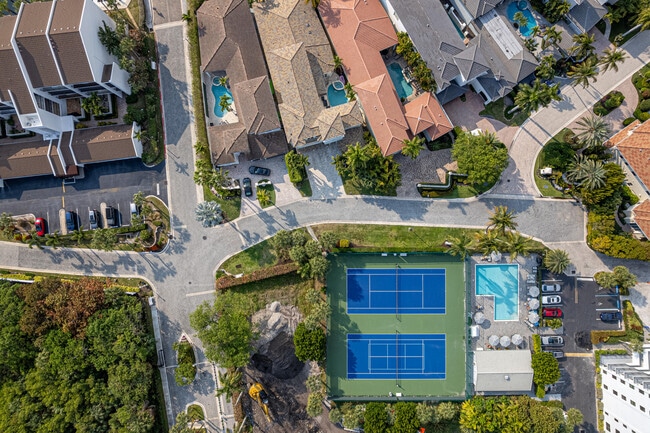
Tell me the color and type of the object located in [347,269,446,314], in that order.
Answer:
blue tennis court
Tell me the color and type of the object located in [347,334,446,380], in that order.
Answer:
blue tennis court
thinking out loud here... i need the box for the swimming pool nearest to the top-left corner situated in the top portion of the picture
[209,76,234,118]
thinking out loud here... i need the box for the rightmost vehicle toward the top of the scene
[547,82,564,100]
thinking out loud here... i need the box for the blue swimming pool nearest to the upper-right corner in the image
[505,0,538,37]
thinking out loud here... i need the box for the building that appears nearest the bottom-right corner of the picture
[602,360,650,433]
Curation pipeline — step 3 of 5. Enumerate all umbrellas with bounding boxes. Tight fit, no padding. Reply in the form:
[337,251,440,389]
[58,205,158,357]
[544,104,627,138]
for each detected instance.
[512,333,522,345]
[491,250,501,261]
[528,286,540,296]
[528,312,540,322]
[488,335,500,345]
[500,335,510,347]
[474,312,485,323]
[528,298,539,309]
